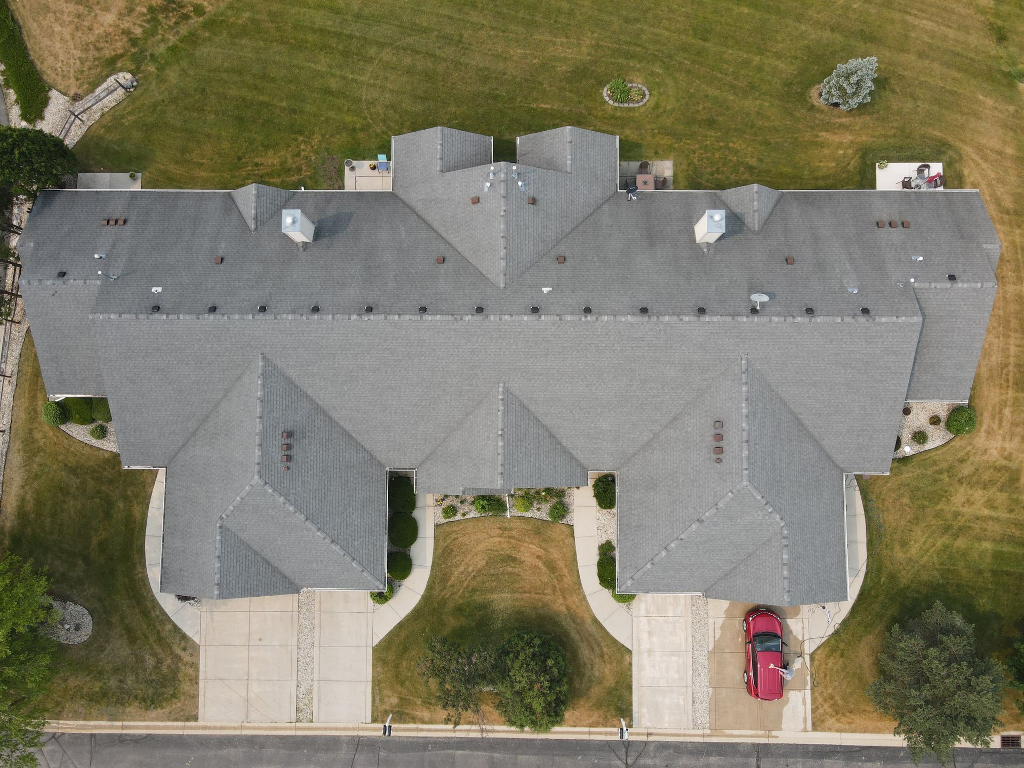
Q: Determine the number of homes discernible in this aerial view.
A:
1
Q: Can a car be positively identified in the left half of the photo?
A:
No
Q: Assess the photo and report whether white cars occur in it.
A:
No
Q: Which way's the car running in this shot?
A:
vertically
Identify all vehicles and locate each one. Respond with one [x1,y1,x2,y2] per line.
[742,606,789,703]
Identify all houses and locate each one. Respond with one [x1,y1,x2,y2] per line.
[19,127,1001,606]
